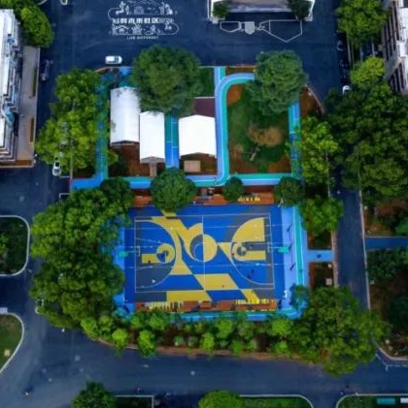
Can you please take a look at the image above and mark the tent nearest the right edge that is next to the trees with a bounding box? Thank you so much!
[178,115,217,159]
